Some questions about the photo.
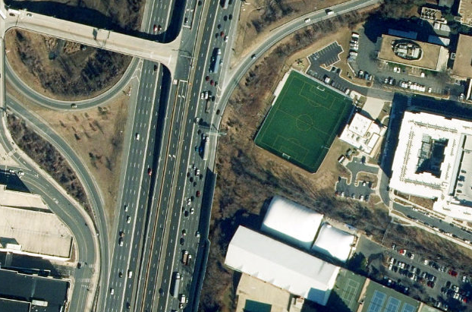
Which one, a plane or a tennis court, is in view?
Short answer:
tennis court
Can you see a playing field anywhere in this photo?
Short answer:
Yes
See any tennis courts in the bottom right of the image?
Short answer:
Yes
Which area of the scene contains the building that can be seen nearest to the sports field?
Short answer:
right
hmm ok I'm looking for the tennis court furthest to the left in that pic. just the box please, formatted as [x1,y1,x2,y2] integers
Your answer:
[331,272,366,299]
